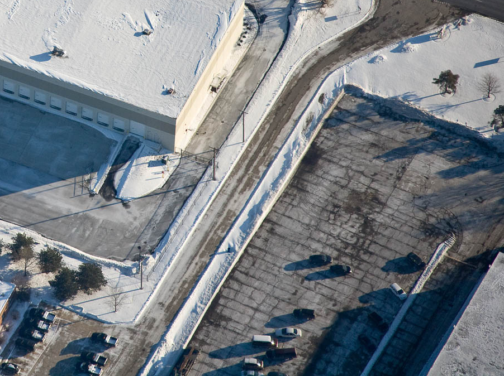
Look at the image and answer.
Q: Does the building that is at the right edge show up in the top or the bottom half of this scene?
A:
bottom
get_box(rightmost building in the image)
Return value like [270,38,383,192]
[421,250,504,376]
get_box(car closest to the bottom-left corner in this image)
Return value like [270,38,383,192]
[0,360,23,374]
